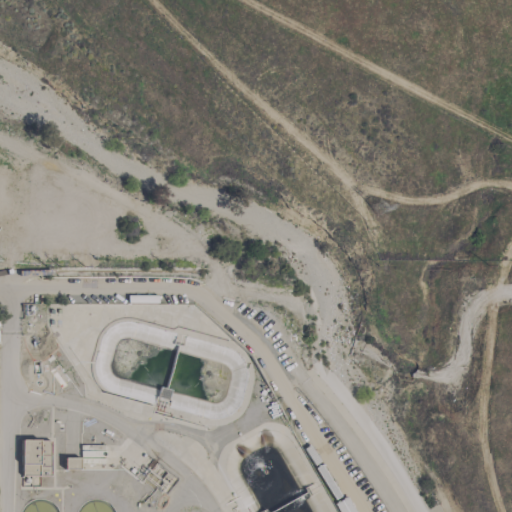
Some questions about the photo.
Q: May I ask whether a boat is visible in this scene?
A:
No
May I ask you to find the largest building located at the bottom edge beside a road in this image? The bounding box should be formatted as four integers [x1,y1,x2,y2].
[22,440,54,487]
